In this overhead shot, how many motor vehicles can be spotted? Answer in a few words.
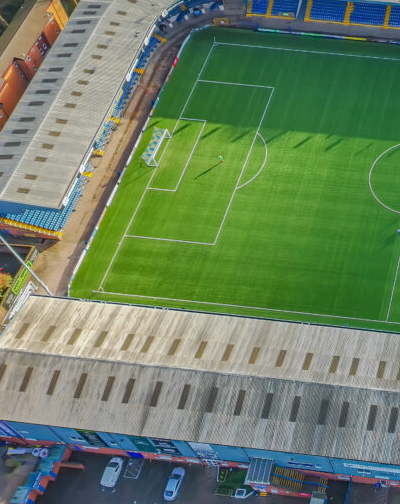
two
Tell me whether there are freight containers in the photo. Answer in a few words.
No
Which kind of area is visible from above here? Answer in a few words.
sports ground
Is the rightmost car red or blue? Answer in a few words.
blue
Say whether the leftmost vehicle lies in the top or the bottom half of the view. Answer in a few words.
bottom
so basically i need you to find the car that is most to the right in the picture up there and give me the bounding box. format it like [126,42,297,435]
[162,467,186,500]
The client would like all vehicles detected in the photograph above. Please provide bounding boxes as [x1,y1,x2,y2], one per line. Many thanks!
[162,467,186,500]
[100,456,126,488]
